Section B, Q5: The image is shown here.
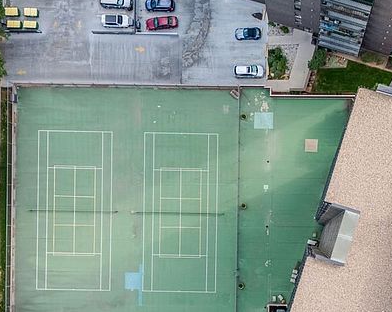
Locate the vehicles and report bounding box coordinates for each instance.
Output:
[146,15,179,30]
[100,0,132,10]
[233,62,264,78]
[234,25,262,40]
[101,12,132,28]
[144,0,175,12]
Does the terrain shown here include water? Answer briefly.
No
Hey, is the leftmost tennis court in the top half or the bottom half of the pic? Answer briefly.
bottom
